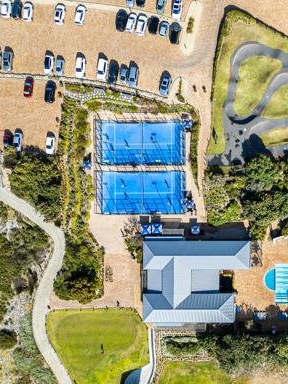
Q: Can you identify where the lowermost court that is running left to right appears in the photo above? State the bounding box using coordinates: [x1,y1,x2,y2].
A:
[95,169,185,214]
